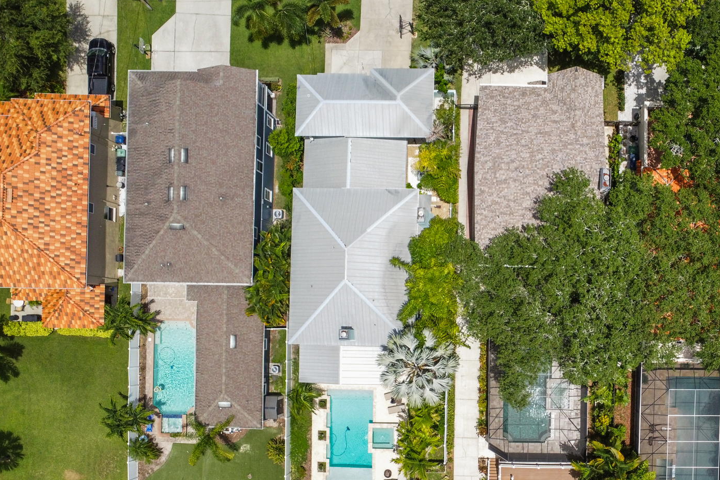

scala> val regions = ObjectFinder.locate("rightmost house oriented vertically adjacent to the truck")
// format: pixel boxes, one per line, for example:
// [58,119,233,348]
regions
[123,64,278,430]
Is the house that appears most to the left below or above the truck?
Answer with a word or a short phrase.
below it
